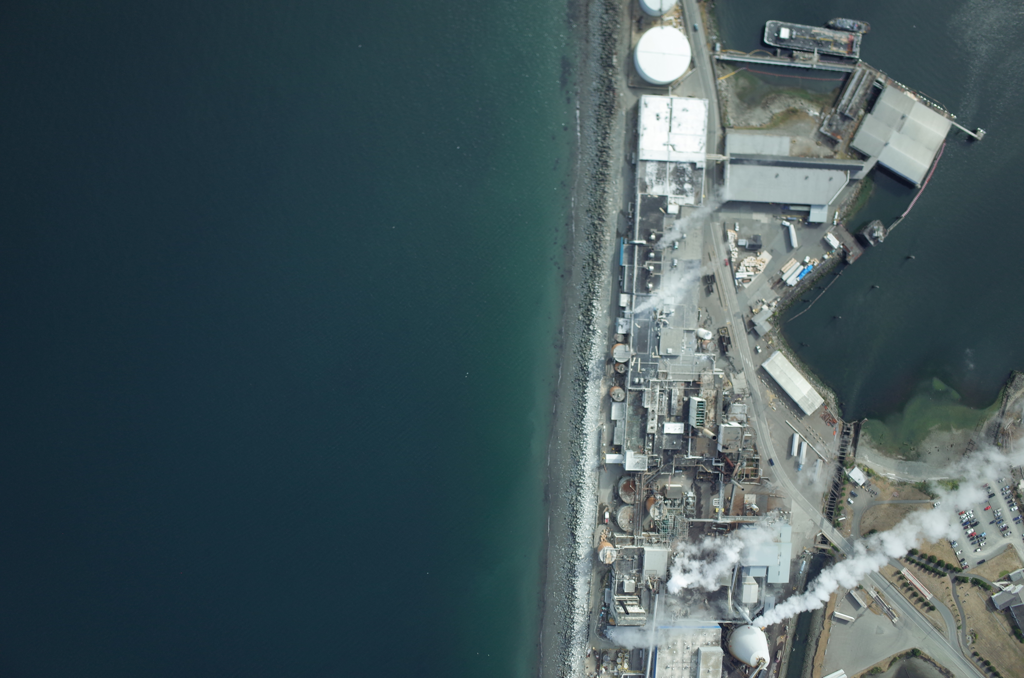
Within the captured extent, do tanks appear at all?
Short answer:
Yes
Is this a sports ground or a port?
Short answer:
port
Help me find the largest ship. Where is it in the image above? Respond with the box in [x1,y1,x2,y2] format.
[763,19,862,59]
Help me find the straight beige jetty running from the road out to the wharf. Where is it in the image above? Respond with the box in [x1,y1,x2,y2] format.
[709,52,856,73]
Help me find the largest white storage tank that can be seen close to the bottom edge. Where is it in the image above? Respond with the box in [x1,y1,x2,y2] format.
[728,623,770,670]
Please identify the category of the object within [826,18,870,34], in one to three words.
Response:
boat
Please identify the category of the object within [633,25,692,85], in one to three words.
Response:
storage tank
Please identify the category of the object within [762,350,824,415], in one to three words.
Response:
shed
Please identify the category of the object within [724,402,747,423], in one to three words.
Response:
building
